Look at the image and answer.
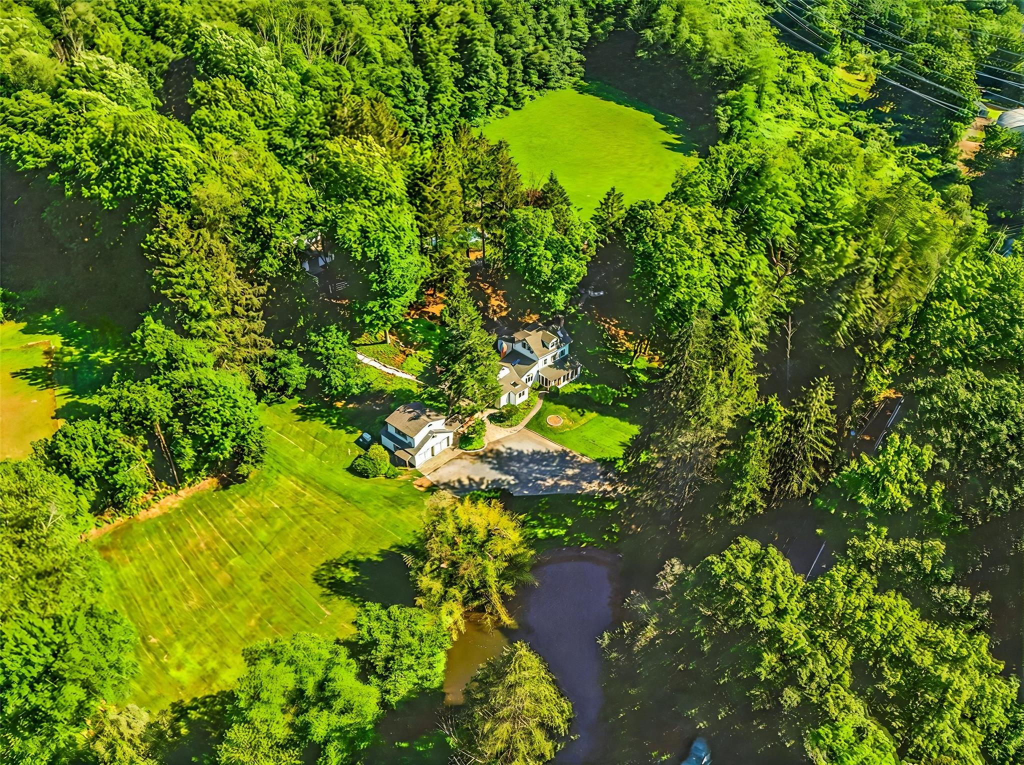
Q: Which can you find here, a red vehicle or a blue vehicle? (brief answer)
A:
blue vehicle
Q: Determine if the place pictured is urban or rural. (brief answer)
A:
rural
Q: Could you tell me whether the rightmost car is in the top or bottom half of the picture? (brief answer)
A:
bottom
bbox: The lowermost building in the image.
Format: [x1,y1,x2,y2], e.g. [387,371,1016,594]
[379,397,467,471]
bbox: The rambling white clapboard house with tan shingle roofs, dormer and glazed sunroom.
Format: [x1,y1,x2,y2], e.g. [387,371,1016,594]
[485,314,583,408]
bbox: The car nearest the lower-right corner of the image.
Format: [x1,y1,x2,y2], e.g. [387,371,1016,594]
[689,739,713,765]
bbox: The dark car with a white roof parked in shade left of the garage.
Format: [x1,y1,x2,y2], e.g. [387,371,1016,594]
[355,433,378,449]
